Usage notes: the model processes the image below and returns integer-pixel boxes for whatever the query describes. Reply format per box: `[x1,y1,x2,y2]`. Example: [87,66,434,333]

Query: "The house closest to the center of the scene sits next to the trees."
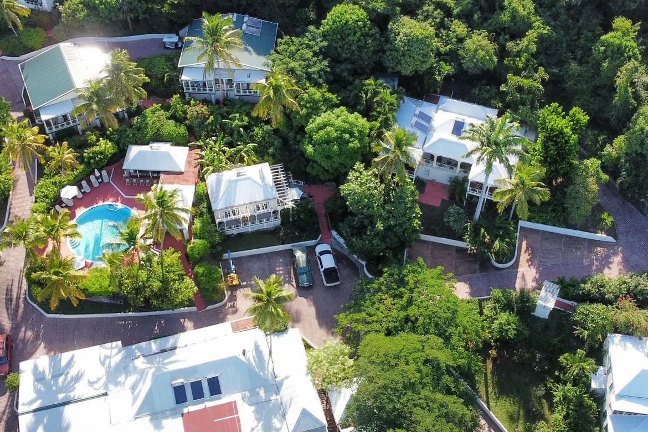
[205,160,308,247]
